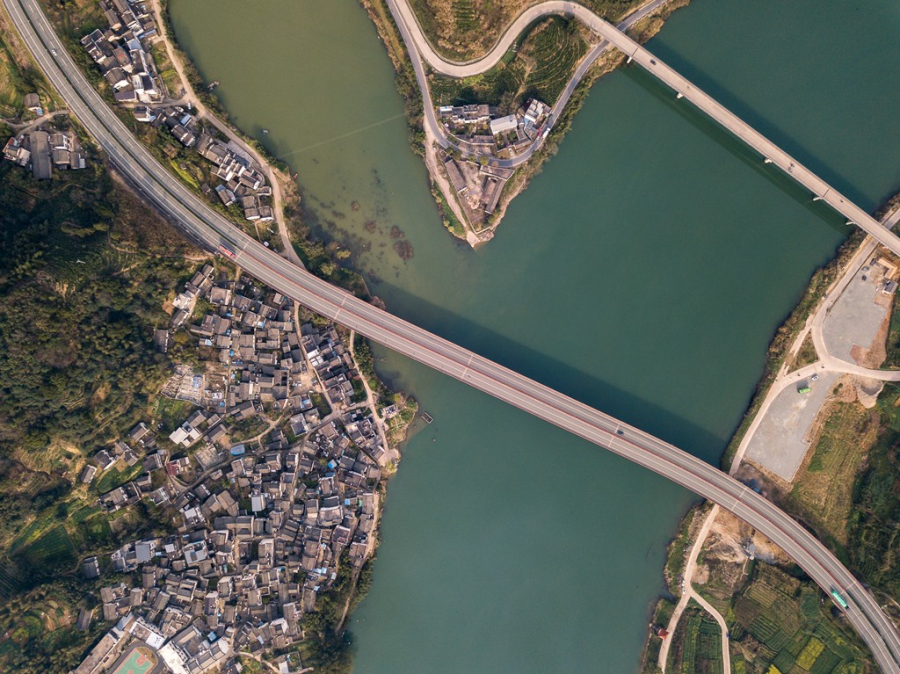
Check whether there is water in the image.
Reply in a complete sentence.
Yes, there is water in the image.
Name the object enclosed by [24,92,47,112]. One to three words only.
house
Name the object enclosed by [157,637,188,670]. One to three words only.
house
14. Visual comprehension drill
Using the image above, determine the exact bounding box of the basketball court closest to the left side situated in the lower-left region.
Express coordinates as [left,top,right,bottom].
[112,646,156,674]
